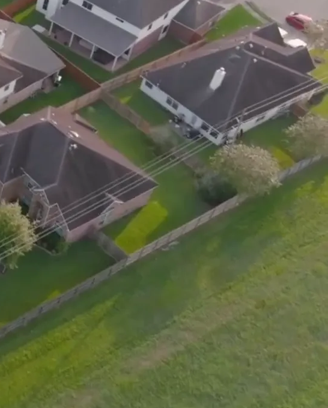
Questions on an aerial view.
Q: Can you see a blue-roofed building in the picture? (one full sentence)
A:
No, no blue-roofed building is visible in the scene.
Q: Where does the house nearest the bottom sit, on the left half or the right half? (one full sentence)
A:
The house nearest the bottom is on the left side of the image.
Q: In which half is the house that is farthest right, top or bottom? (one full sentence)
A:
It is in the top half that the house that is farthest right appears.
